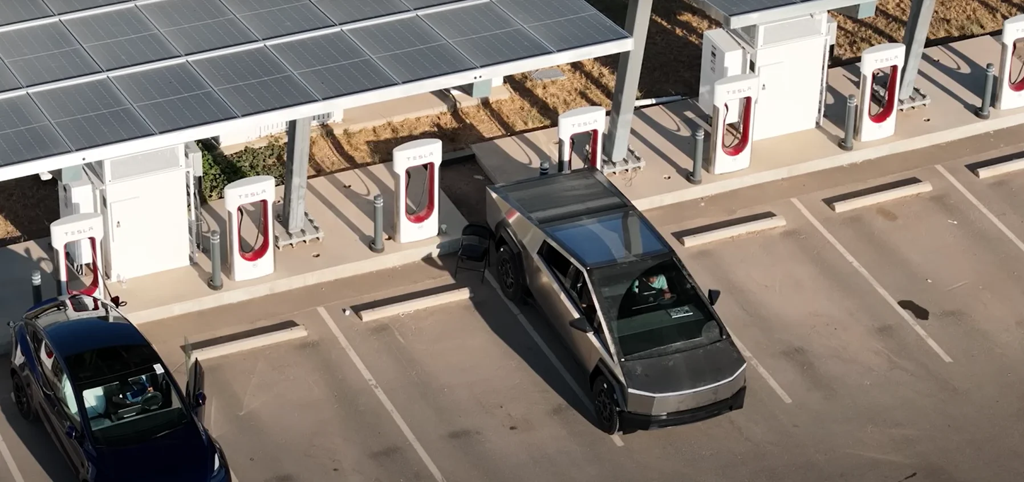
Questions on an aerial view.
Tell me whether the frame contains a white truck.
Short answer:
No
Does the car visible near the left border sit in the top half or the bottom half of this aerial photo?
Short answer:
bottom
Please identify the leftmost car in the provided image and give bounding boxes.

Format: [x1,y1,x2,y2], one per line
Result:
[1,294,233,482]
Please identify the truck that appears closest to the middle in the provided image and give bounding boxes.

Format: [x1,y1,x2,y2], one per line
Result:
[486,164,751,439]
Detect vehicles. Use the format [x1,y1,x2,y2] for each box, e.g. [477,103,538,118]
[1,294,233,482]
[486,164,751,439]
